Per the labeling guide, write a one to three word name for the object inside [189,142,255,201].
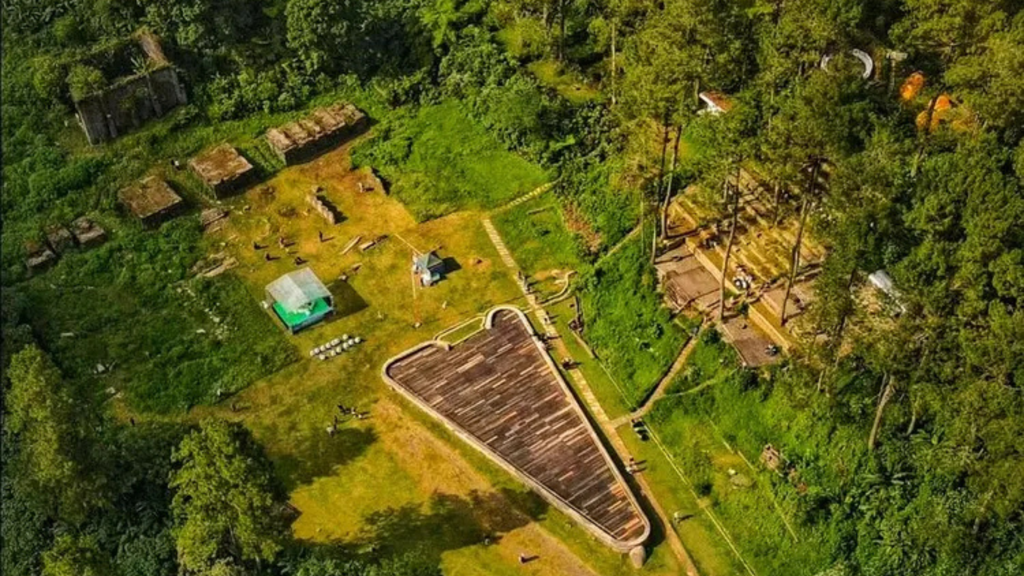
shed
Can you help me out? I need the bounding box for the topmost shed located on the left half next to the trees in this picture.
[266,102,367,166]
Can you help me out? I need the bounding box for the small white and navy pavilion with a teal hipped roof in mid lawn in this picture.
[410,254,448,297]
